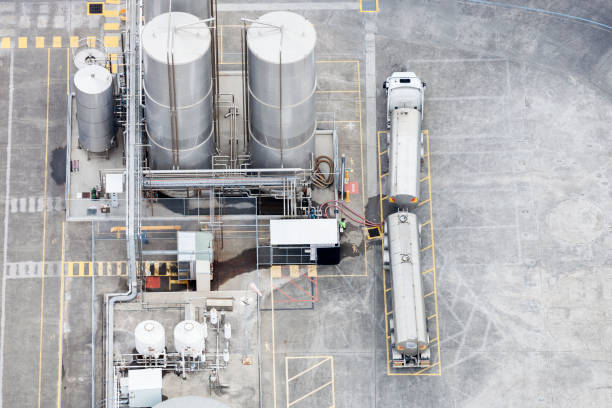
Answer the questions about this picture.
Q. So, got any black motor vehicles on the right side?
No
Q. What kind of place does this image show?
industrial area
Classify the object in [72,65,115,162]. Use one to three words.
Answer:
storage tank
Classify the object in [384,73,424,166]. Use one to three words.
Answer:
truck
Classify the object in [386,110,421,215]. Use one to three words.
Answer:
trailer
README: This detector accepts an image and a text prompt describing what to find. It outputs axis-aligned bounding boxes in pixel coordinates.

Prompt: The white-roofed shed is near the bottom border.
[128,369,162,407]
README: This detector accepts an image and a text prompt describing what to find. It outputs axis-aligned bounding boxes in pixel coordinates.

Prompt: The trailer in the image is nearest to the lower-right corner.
[386,210,430,372]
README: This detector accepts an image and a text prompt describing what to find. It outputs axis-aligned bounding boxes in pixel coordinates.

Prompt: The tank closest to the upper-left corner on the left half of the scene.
[72,38,127,73]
